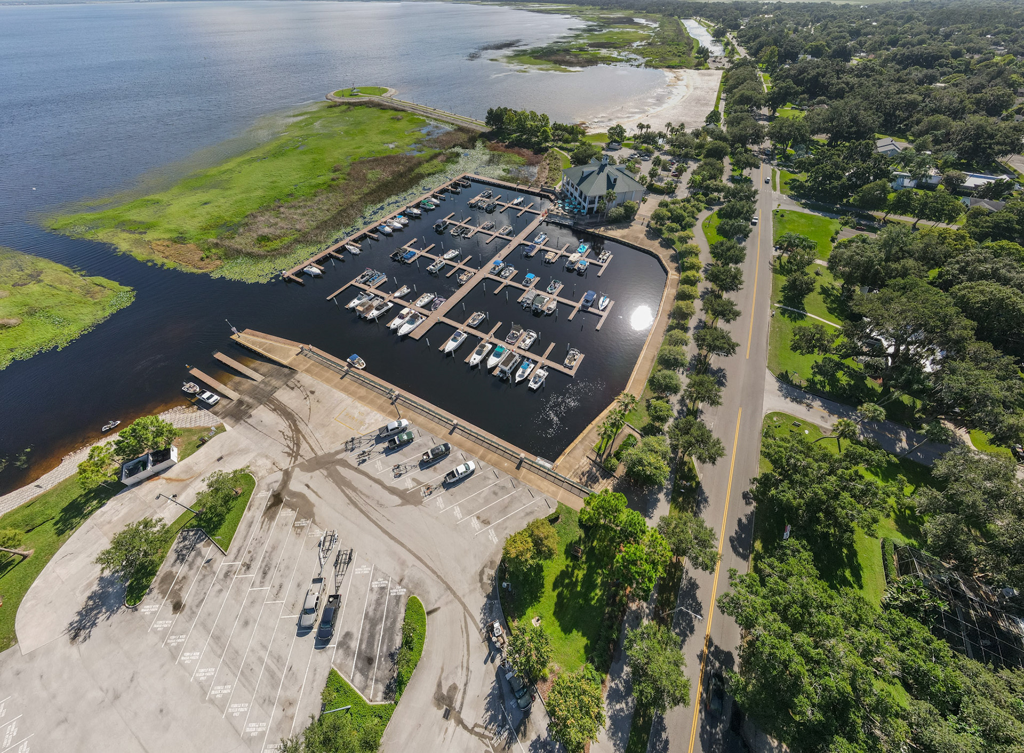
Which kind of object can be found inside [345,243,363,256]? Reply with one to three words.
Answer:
boat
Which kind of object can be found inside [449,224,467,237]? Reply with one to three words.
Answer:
boat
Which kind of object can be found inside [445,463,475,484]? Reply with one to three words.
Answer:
truck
